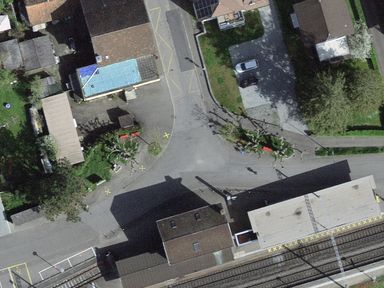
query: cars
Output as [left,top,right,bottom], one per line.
[236,58,260,72]
[239,75,260,88]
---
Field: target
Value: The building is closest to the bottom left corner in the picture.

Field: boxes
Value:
[11,202,56,225]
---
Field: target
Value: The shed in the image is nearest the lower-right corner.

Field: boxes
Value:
[248,176,381,248]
